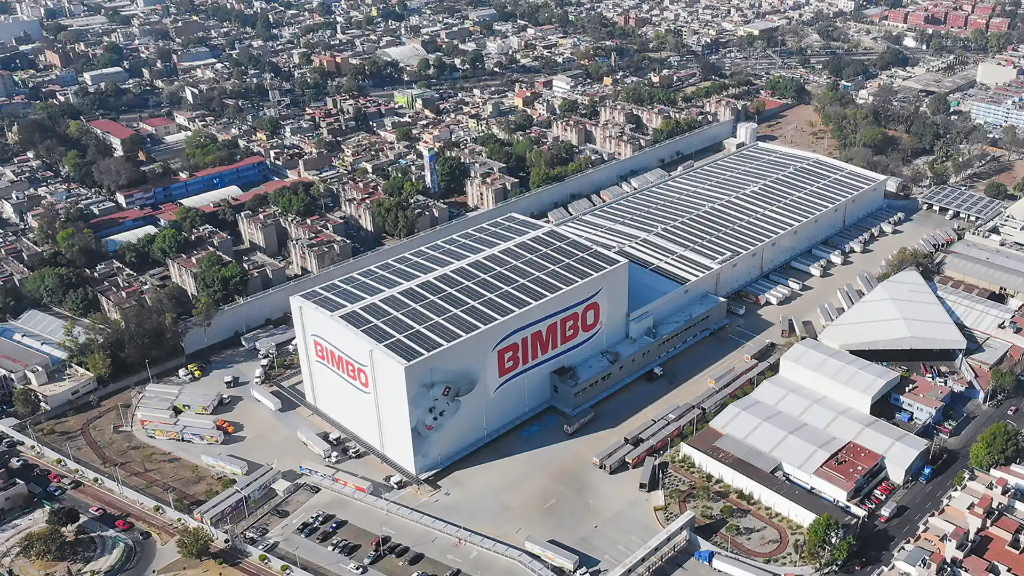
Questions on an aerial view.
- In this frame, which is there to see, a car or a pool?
car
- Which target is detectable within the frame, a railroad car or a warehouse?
warehouse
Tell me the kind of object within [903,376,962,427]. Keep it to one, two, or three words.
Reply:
house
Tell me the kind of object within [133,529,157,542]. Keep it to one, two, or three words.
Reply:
vehicle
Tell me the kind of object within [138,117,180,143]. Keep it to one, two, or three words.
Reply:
building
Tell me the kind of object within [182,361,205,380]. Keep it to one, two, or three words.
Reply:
vehicle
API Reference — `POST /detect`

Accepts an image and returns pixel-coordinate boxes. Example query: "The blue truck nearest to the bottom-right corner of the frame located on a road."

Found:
[917,462,939,487]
